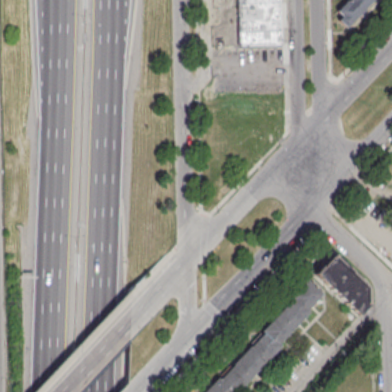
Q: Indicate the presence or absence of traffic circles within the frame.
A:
No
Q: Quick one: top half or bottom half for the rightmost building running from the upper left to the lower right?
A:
bottom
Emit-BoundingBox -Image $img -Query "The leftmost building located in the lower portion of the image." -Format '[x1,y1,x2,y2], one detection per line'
[204,280,324,392]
